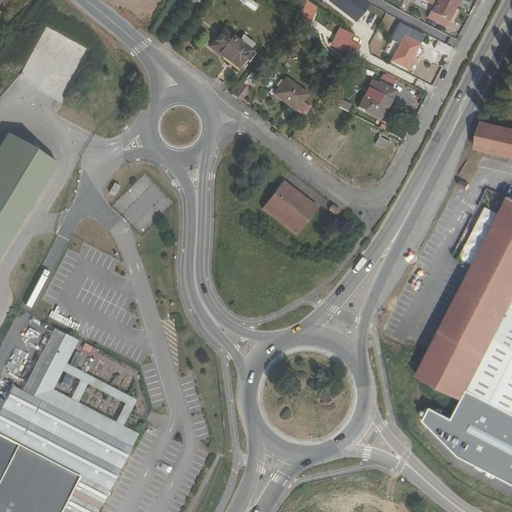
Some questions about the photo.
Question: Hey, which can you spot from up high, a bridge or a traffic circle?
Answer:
traffic circle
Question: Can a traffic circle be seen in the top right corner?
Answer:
No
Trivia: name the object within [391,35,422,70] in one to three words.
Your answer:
house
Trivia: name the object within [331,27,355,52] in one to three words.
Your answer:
building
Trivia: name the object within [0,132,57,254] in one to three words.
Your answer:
building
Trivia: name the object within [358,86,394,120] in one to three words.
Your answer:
house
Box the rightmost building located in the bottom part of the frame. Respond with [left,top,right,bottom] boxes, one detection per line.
[468,304,512,413]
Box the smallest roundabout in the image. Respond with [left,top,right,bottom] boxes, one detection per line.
[143,90,218,164]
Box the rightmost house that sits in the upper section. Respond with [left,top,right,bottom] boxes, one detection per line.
[473,121,512,161]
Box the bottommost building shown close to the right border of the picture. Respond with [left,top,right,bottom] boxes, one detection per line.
[422,392,512,486]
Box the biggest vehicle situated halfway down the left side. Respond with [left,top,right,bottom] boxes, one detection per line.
[26,268,49,308]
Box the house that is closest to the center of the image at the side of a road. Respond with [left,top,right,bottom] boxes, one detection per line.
[263,180,318,235]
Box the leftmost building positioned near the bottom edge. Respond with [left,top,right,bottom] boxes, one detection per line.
[0,328,139,512]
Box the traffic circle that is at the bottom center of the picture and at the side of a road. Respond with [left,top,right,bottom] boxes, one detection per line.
[243,331,372,460]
